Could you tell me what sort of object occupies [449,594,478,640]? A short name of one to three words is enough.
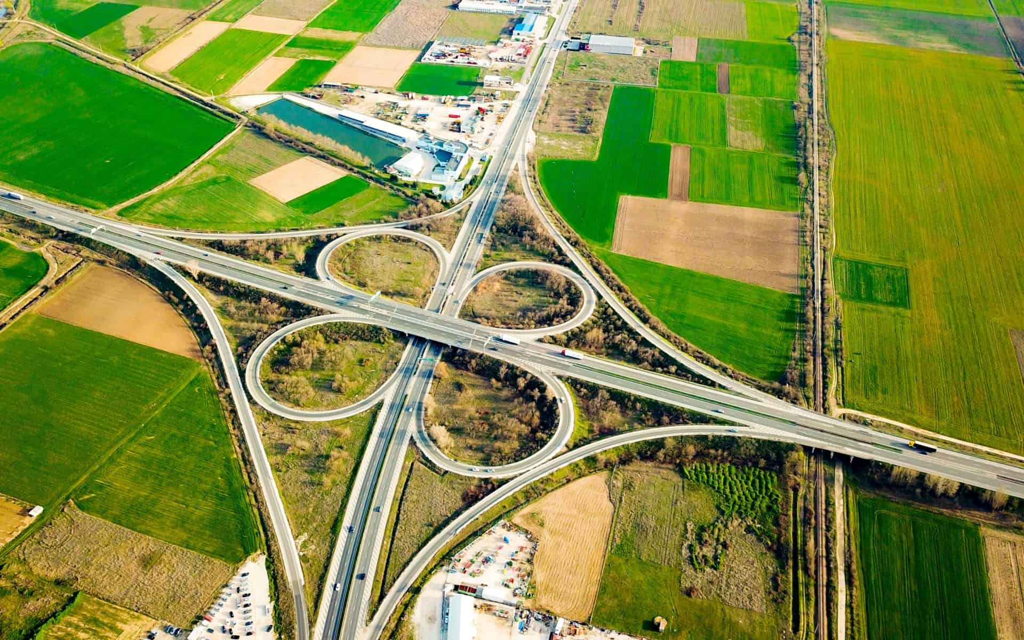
building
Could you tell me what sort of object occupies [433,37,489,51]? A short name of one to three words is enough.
greenhouse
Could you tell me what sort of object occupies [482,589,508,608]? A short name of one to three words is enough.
shed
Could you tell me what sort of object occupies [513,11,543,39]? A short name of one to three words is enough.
building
